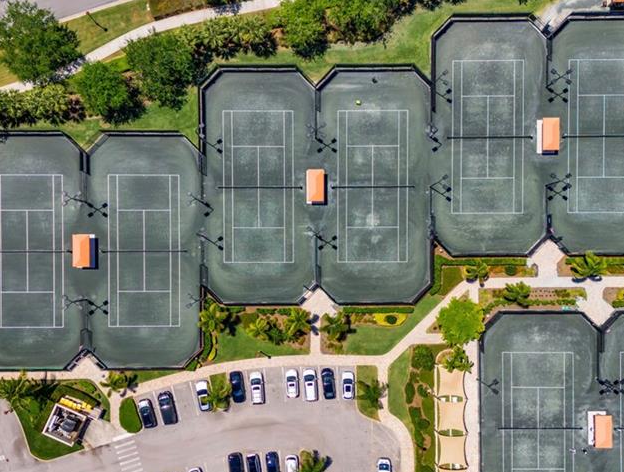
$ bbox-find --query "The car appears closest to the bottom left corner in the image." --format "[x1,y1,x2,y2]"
[139,397,157,429]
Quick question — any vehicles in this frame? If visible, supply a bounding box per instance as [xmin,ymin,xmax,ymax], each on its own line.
[321,367,335,398]
[374,455,392,472]
[230,371,247,402]
[229,452,244,472]
[341,370,355,399]
[249,372,264,403]
[195,379,211,411]
[139,397,157,429]
[159,392,177,424]
[246,452,261,472]
[266,451,281,472]
[286,456,298,472]
[285,368,299,398]
[302,368,318,402]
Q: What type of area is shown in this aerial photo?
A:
sports ground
